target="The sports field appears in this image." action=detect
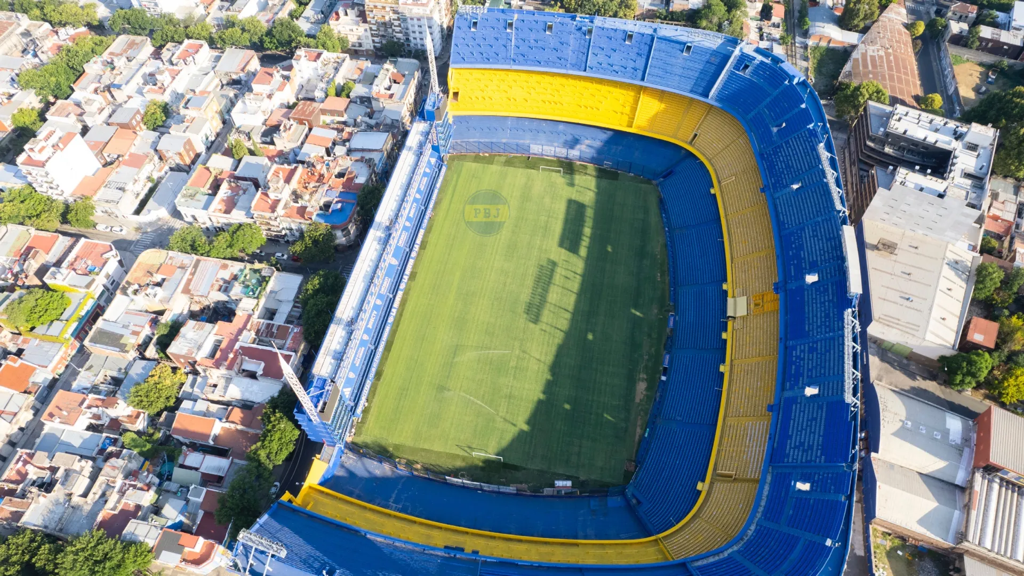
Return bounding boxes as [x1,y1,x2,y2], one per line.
[363,161,653,482]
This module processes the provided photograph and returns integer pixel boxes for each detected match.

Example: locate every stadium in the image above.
[224,8,861,576]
